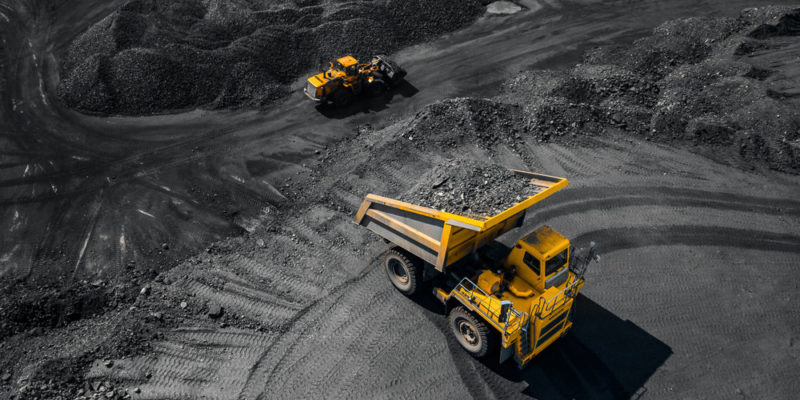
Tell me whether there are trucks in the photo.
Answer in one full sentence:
Yes, looking at the shot, I can spot a truck.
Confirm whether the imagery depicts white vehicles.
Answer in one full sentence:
No, I can see no white vehicle in this picture.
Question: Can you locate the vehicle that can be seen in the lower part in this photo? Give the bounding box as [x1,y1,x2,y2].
[356,171,602,370]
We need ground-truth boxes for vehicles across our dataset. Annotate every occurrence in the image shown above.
[305,54,410,110]
[356,171,602,370]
